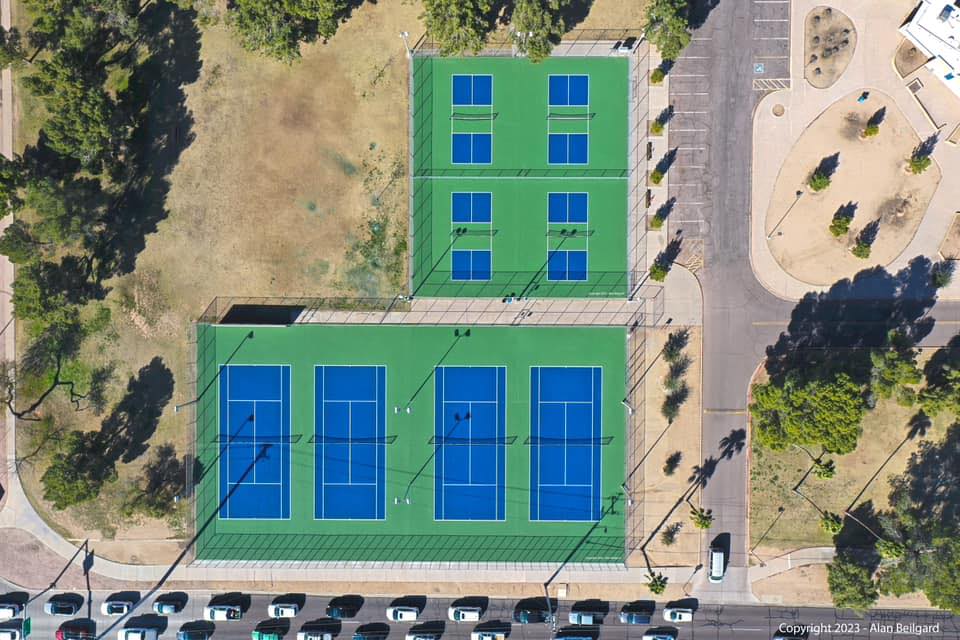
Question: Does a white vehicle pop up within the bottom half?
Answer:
Yes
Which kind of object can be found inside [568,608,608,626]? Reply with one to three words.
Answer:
vehicle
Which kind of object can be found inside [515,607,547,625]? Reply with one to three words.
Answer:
car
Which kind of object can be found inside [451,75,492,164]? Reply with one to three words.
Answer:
sports court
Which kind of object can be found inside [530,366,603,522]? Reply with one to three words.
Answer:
tennis court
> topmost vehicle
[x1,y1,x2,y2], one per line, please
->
[706,543,725,579]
